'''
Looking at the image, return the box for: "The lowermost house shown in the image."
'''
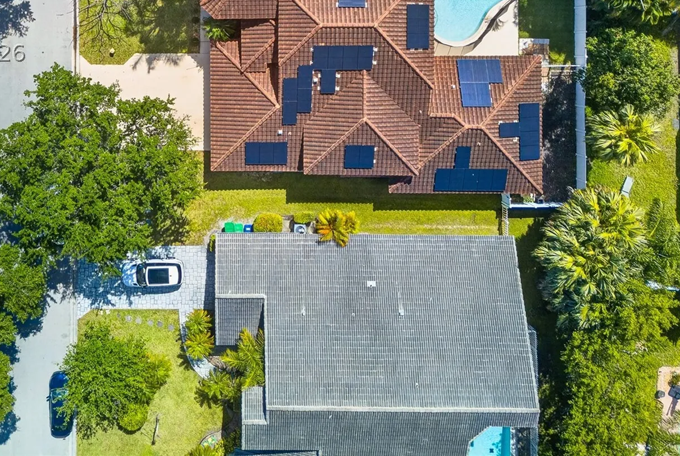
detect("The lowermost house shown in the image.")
[213,232,542,456]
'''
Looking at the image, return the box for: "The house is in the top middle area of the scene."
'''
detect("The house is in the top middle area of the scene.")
[200,0,545,196]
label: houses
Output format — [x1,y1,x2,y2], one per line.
[213,232,542,456]
[200,0,545,196]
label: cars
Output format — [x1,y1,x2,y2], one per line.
[45,370,78,440]
[121,258,185,293]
